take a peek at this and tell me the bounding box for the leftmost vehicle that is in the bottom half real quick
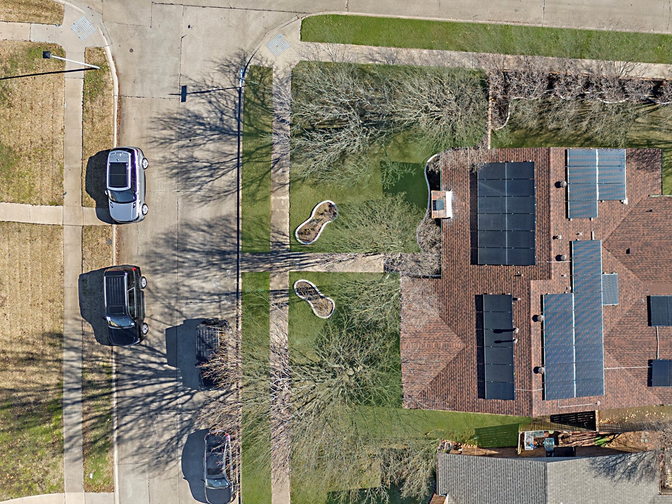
[101,267,148,348]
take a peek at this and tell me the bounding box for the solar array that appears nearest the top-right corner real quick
[568,148,627,218]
